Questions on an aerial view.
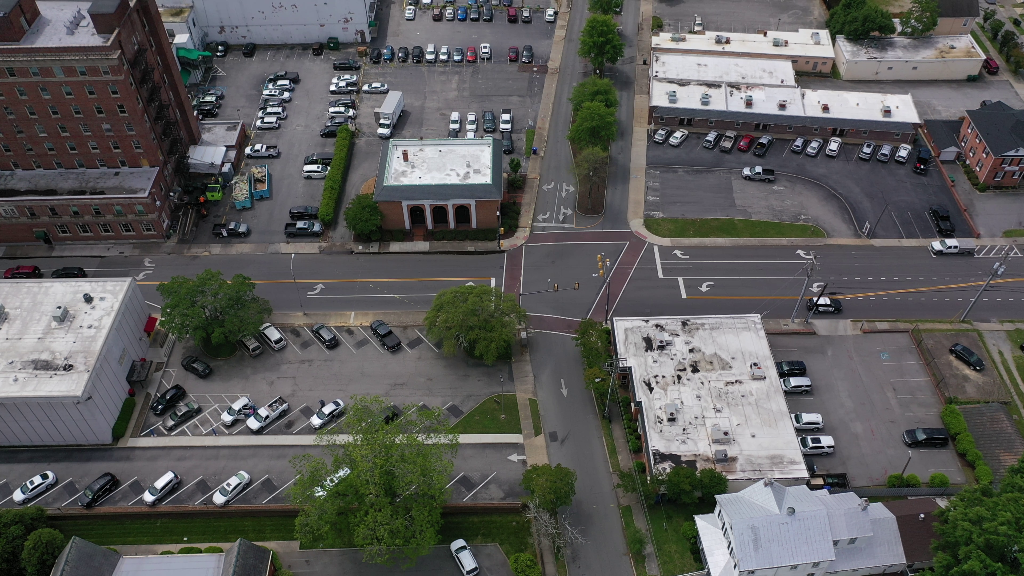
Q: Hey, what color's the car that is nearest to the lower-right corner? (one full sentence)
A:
From above, the car that is nearest to the lower-right corner appears black.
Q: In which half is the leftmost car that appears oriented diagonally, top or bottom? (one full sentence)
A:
The leftmost car that appears oriented diagonally is in the bottom half of the image.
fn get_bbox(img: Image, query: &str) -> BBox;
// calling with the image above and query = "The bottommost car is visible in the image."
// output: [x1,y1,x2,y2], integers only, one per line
[447,536,483,576]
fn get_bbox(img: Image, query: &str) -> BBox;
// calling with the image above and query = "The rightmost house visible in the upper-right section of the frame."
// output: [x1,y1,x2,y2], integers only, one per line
[958,97,1024,182]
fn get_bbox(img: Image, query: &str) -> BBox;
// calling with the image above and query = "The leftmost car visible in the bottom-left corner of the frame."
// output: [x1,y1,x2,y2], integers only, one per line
[13,469,59,507]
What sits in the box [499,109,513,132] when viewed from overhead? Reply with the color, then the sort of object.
white vehicle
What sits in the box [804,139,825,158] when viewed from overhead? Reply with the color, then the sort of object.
gray car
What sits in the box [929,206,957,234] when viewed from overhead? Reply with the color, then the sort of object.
black truck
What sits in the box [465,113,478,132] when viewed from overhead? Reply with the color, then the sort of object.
white vehicle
